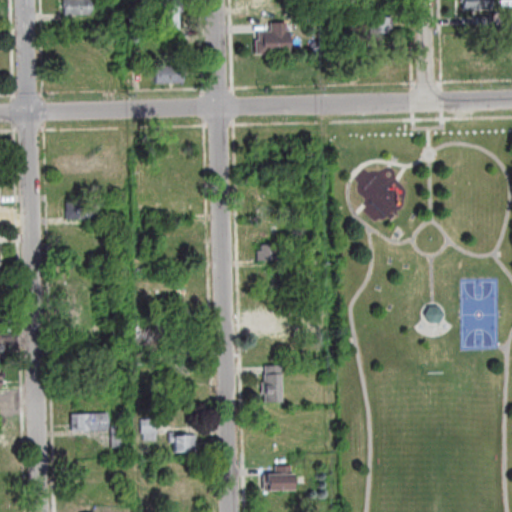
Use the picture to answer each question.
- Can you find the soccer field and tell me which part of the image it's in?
bottom right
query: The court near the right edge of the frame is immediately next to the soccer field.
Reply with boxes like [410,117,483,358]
[460,278,498,351]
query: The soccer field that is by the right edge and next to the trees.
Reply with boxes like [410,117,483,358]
[379,373,496,512]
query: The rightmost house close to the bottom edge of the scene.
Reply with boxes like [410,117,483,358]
[261,465,298,492]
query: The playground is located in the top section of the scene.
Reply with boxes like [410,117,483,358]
[356,168,404,220]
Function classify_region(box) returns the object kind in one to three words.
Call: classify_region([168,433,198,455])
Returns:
house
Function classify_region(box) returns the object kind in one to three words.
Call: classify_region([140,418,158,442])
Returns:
building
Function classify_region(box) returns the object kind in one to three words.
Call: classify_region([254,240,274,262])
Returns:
house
